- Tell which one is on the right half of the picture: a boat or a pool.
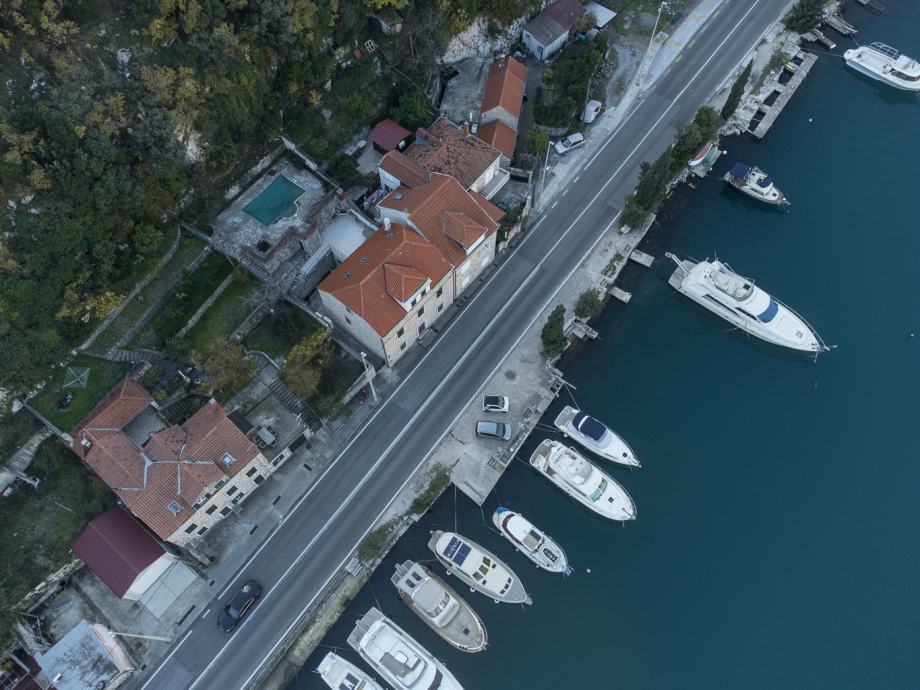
boat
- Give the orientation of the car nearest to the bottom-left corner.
on a diagonal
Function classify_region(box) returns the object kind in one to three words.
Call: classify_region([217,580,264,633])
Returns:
car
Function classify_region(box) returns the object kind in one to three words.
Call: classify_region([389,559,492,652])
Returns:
boat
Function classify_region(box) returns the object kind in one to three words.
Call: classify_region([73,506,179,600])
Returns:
building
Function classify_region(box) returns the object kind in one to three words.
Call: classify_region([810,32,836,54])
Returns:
pier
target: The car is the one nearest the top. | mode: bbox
[579,100,606,129]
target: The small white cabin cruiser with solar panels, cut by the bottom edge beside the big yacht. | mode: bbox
[314,650,382,690]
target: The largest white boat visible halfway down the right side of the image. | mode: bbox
[666,244,826,361]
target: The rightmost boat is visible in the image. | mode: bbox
[841,48,920,103]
